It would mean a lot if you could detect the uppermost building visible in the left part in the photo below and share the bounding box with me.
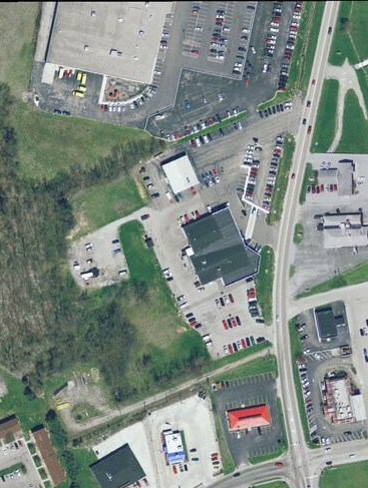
[47,0,172,84]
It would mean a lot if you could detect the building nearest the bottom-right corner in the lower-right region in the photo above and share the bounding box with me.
[324,376,366,424]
